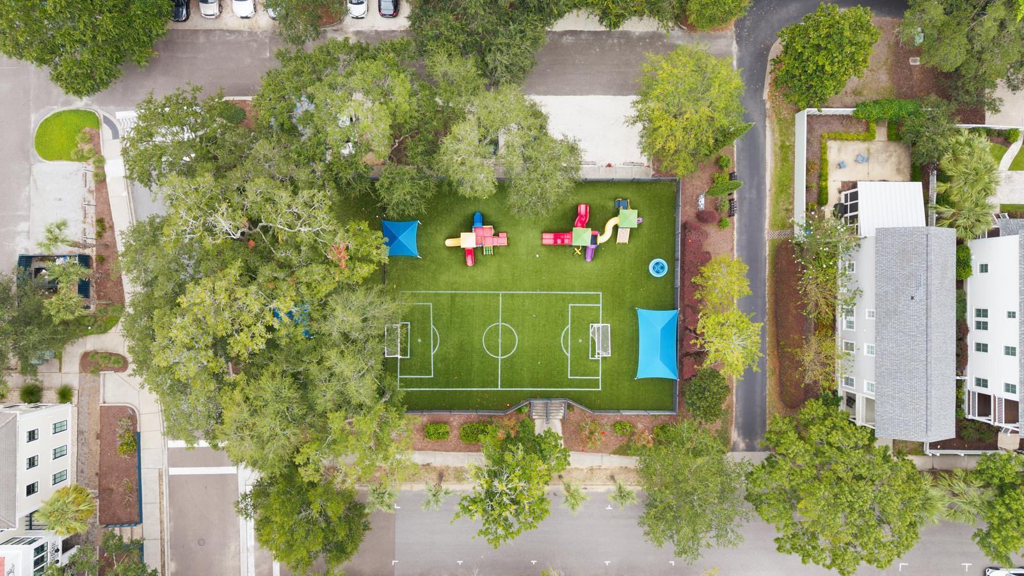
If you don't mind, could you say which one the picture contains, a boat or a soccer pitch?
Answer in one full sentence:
It is a soccer pitch that can be seen here.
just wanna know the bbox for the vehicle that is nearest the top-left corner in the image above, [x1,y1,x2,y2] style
[165,0,192,22]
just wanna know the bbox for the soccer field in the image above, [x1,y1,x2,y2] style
[395,289,605,392]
